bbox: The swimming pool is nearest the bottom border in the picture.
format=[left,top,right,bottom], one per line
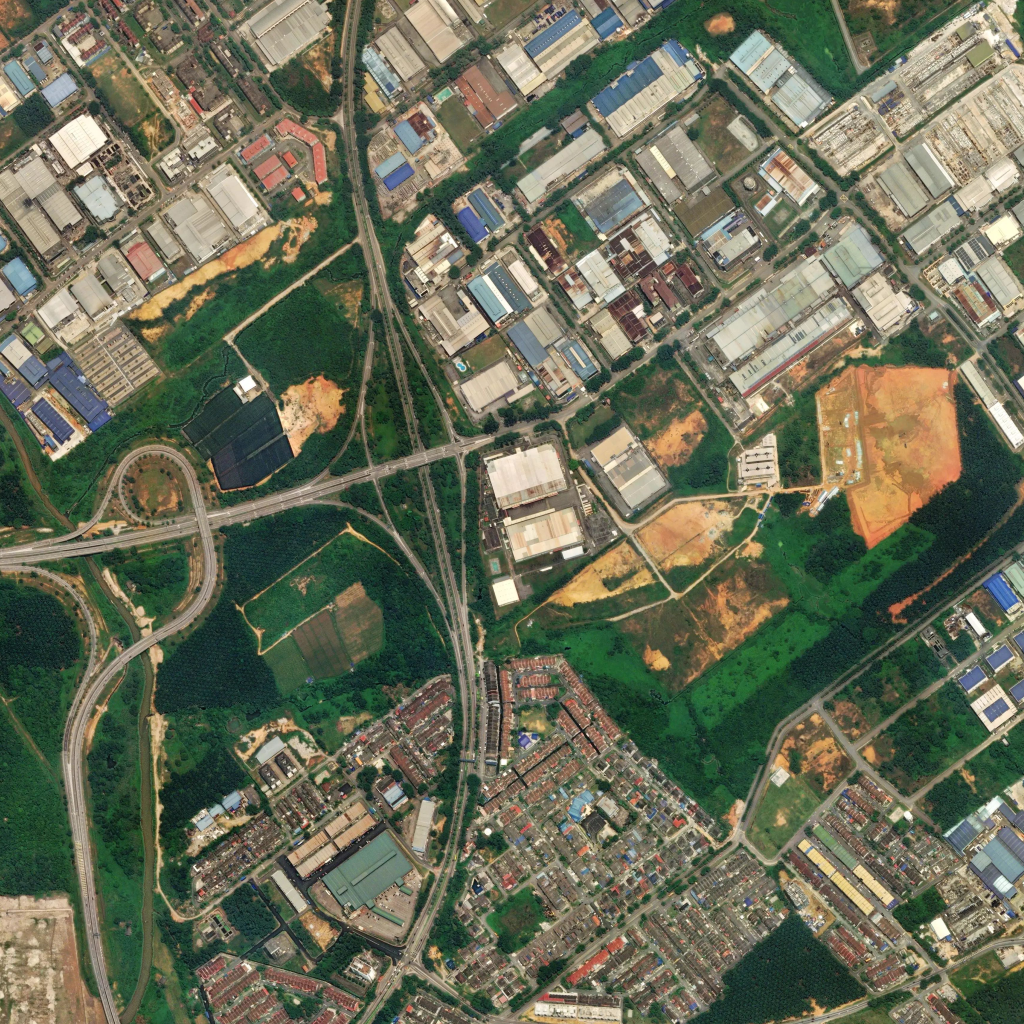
[452,357,473,378]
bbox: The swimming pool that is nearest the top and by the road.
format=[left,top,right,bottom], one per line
[433,86,454,103]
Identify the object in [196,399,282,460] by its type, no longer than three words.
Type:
house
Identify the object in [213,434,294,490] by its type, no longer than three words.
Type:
house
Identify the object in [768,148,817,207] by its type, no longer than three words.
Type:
building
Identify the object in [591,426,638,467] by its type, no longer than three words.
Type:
building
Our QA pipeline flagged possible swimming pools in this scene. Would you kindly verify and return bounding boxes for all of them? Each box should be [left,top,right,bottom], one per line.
[452,357,473,378]
[433,86,454,103]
